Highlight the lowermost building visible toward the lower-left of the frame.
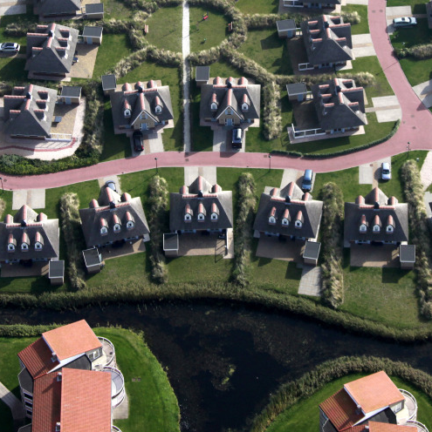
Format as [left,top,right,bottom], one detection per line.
[17,321,126,432]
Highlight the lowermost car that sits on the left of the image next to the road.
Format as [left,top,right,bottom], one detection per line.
[104,176,119,194]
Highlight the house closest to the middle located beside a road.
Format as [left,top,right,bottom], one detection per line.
[169,176,233,235]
